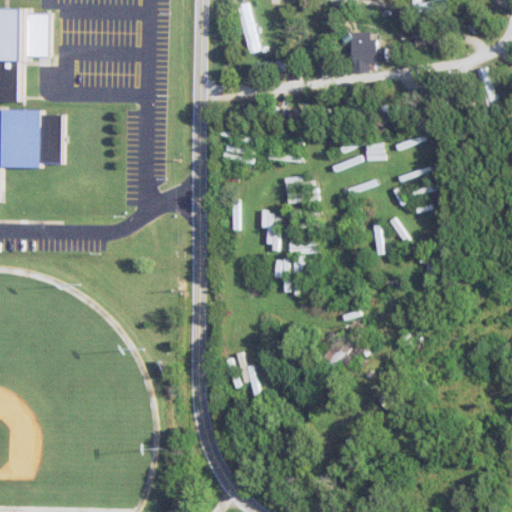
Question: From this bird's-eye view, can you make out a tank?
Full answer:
No, the picture doesn't show any tank.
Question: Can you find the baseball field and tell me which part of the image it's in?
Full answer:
You can find the baseball field in the bottom left area of the picture.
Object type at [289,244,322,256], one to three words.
house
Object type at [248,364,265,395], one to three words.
house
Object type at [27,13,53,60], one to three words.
building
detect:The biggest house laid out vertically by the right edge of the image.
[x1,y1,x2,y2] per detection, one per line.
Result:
[481,67,498,103]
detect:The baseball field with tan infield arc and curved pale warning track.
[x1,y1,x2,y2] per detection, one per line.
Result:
[0,267,160,512]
